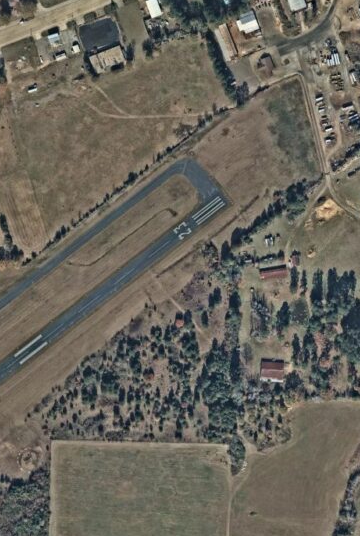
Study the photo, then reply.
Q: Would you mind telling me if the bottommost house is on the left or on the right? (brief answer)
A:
right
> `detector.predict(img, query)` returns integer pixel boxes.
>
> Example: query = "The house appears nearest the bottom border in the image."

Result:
[260,361,284,381]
